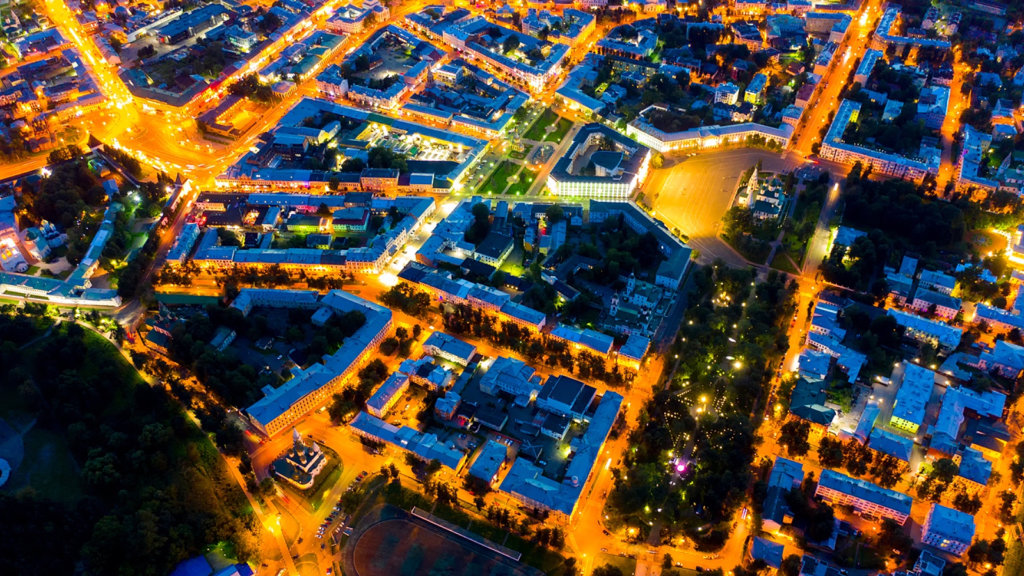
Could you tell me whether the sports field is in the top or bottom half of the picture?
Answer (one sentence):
You can find the sports field in the bottom half.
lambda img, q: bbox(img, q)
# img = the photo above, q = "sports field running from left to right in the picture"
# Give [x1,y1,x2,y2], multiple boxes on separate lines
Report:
[353,519,521,576]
